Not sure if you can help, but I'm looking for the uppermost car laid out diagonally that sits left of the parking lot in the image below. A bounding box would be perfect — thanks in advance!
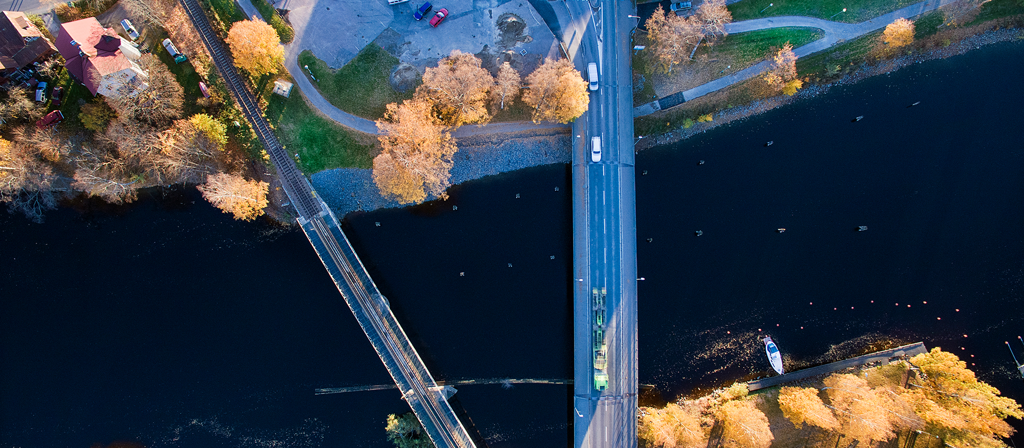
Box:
[120,18,141,41]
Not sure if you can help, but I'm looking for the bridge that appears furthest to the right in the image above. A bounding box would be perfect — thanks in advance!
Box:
[571,86,639,447]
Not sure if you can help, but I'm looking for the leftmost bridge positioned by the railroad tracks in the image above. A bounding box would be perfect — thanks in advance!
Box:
[282,178,475,448]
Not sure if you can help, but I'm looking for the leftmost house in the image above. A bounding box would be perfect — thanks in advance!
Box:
[0,3,69,89]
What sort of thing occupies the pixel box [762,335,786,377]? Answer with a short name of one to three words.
boat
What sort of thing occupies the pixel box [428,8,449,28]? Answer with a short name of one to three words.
car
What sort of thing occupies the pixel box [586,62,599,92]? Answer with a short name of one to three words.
vehicle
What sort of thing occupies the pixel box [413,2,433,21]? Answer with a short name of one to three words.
car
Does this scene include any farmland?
No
